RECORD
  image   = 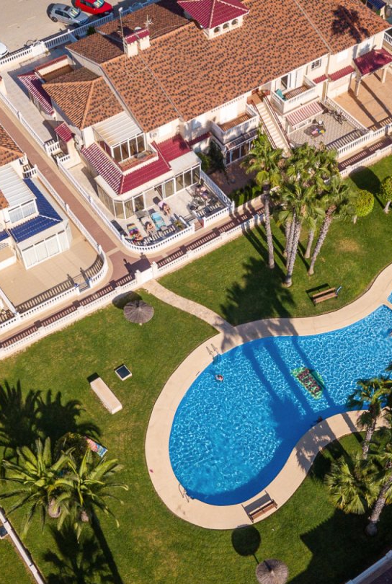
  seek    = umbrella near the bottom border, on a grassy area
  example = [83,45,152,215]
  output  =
[251,556,293,584]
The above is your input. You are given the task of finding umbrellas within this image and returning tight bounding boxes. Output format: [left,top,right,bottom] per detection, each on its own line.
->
[251,556,293,584]
[122,299,155,329]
